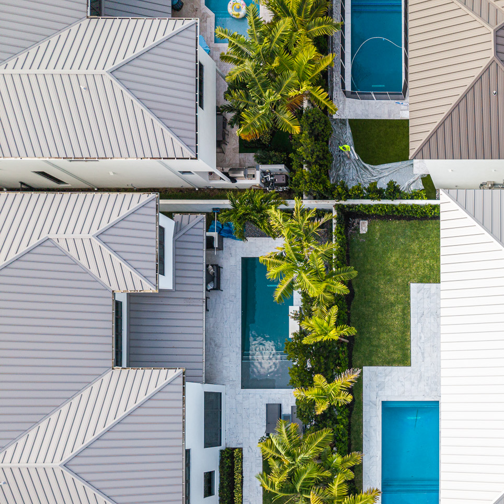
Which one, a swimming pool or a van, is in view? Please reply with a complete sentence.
There is a swimming pool in the scene.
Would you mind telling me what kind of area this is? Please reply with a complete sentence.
This image shows a residential area.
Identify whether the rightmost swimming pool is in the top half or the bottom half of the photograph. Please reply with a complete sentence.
It is in the bottom half that the rightmost swimming pool appears.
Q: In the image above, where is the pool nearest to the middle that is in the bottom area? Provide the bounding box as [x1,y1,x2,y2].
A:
[238,254,295,391]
